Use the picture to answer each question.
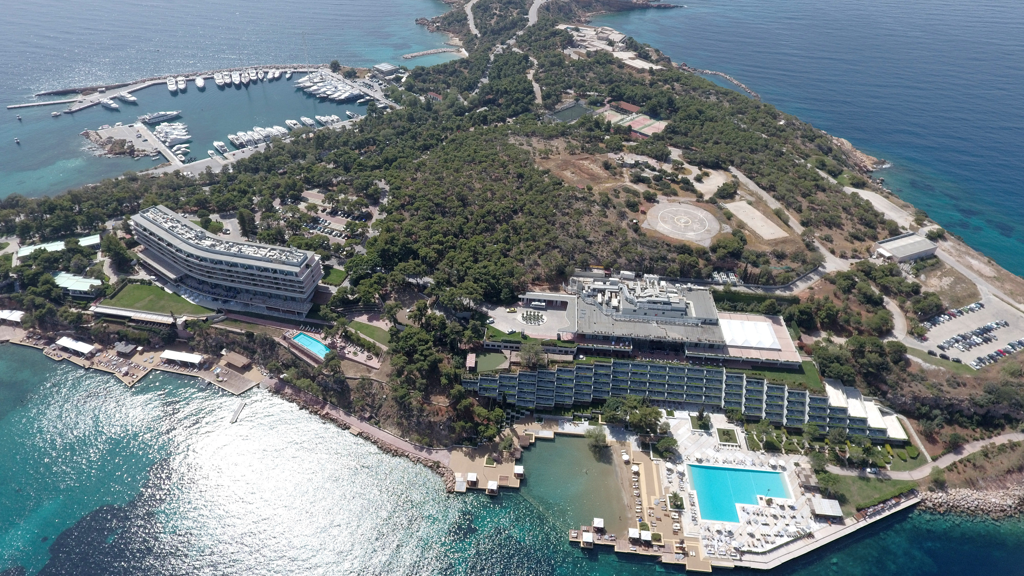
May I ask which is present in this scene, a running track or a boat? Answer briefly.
boat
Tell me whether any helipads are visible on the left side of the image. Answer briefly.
No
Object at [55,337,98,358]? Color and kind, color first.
white tent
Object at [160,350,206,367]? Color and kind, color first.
white tent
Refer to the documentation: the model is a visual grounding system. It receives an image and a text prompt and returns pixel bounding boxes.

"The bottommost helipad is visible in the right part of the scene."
[645,202,722,242]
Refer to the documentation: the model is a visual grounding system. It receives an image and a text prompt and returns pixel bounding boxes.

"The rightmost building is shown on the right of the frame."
[874,230,939,267]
